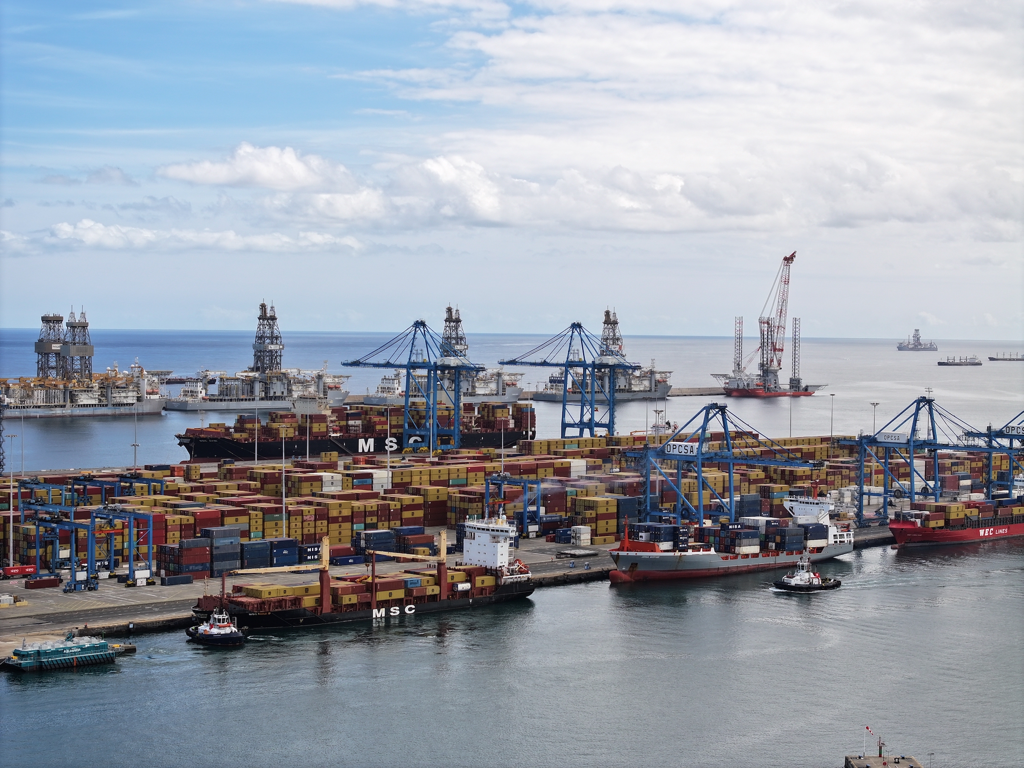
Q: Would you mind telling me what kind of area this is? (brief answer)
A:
port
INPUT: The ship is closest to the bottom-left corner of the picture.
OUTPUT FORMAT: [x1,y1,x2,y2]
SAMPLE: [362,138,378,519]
[0,620,125,671]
